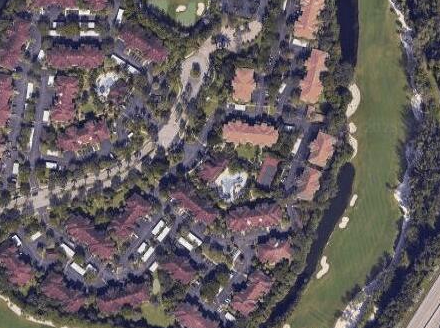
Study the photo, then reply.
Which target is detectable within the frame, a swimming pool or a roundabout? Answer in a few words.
swimming pool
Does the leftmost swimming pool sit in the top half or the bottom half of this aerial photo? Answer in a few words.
top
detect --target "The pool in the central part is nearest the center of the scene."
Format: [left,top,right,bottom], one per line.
[216,168,249,202]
